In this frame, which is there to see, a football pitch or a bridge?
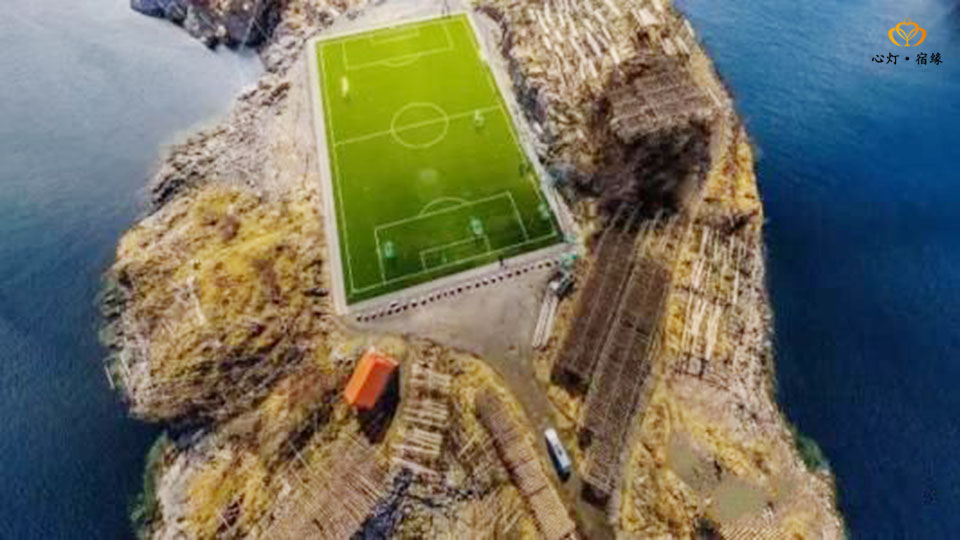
football pitch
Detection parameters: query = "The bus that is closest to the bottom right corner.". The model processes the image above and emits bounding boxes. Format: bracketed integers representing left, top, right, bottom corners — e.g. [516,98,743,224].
[544,429,571,478]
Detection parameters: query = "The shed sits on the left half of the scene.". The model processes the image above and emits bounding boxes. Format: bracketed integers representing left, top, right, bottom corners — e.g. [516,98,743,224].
[345,349,401,412]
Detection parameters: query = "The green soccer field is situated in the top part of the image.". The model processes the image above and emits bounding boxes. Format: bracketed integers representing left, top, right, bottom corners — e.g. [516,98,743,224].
[309,8,574,313]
